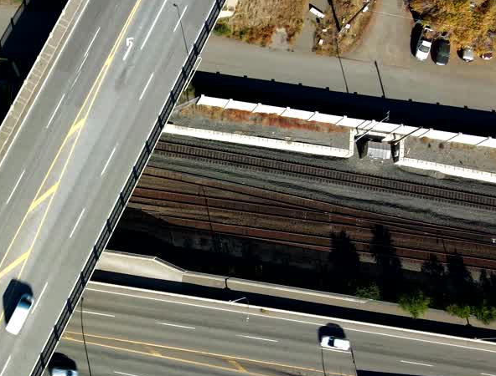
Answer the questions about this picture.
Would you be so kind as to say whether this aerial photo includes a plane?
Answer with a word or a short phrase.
No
